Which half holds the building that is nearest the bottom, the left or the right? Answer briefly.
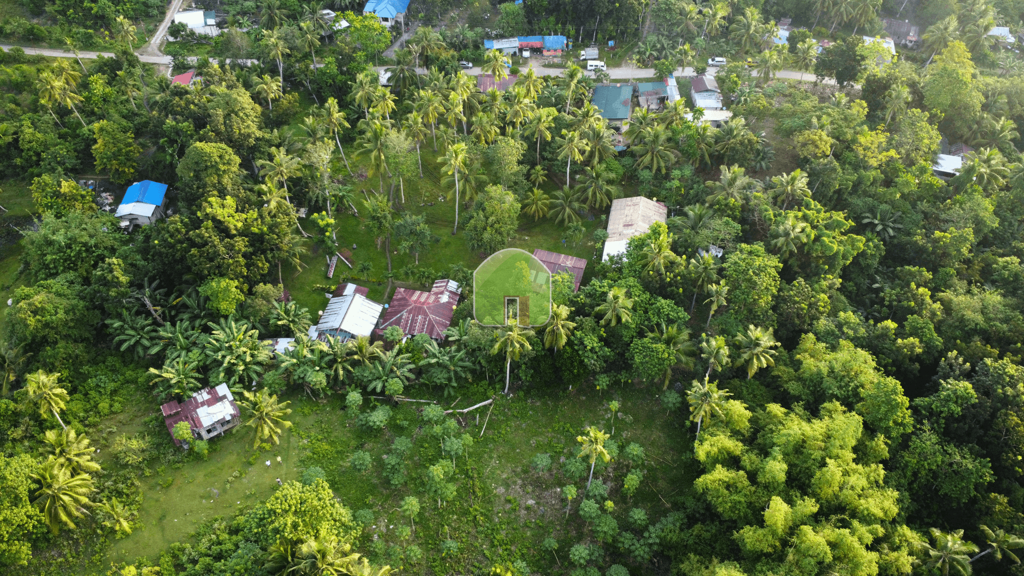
left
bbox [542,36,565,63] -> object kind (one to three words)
building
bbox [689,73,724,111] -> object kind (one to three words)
house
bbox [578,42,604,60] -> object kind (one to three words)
vehicle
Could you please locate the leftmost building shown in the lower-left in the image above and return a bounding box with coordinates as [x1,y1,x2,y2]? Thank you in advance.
[161,383,243,455]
